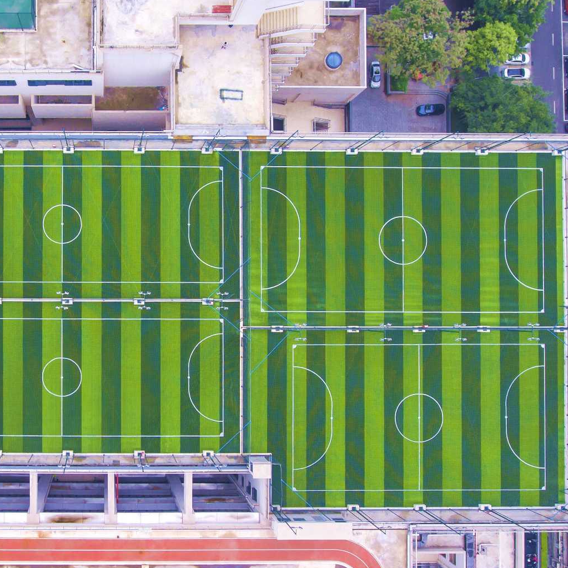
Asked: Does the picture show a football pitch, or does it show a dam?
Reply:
football pitch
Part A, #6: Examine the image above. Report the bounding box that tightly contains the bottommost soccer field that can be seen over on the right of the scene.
[245,331,565,508]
